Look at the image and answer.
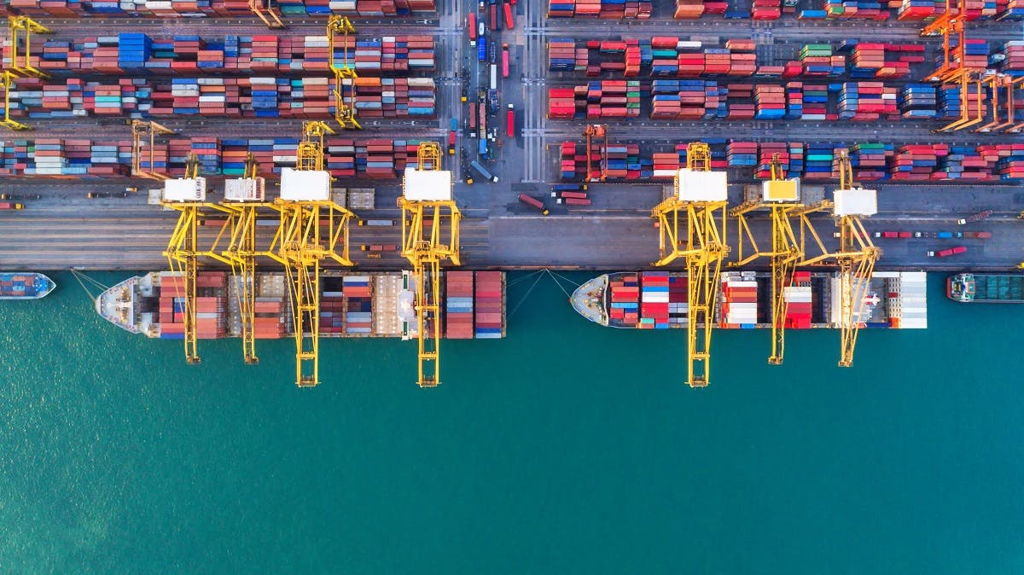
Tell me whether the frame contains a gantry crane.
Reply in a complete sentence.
Yes, looking at the shot, I can spot a gantry crane.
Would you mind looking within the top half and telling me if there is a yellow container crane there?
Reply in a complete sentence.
Yes, a yellow container crane can be seen within the top half.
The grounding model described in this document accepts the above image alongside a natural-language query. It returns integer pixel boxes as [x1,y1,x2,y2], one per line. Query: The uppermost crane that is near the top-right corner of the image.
[920,0,965,34]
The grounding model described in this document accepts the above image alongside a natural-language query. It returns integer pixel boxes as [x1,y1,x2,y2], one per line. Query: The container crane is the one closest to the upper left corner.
[11,14,59,79]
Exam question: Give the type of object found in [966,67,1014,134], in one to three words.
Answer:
container crane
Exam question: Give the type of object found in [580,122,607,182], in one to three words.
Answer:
container crane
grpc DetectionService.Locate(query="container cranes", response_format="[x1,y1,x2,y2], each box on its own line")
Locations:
[0,68,39,131]
[580,122,607,182]
[650,143,730,387]
[921,17,966,80]
[132,120,176,182]
[303,120,335,169]
[278,141,357,387]
[401,143,464,387]
[966,67,1014,134]
[329,13,360,78]
[250,0,286,29]
[11,14,59,79]
[219,152,296,365]
[722,153,808,365]
[937,67,985,132]
[785,148,881,367]
[156,154,250,365]
[334,68,365,131]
